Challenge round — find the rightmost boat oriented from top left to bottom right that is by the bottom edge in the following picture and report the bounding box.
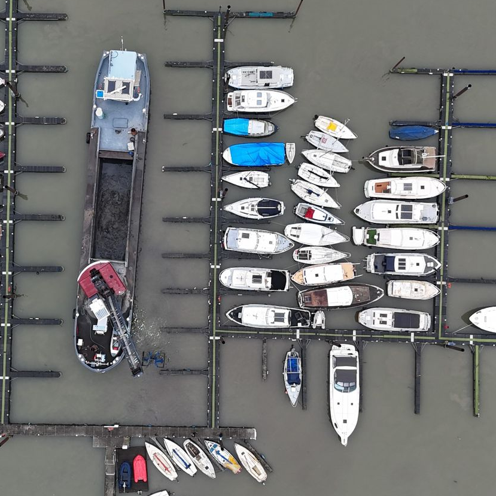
[235,443,268,485]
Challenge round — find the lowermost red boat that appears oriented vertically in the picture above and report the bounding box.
[134,454,147,484]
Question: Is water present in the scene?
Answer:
Yes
